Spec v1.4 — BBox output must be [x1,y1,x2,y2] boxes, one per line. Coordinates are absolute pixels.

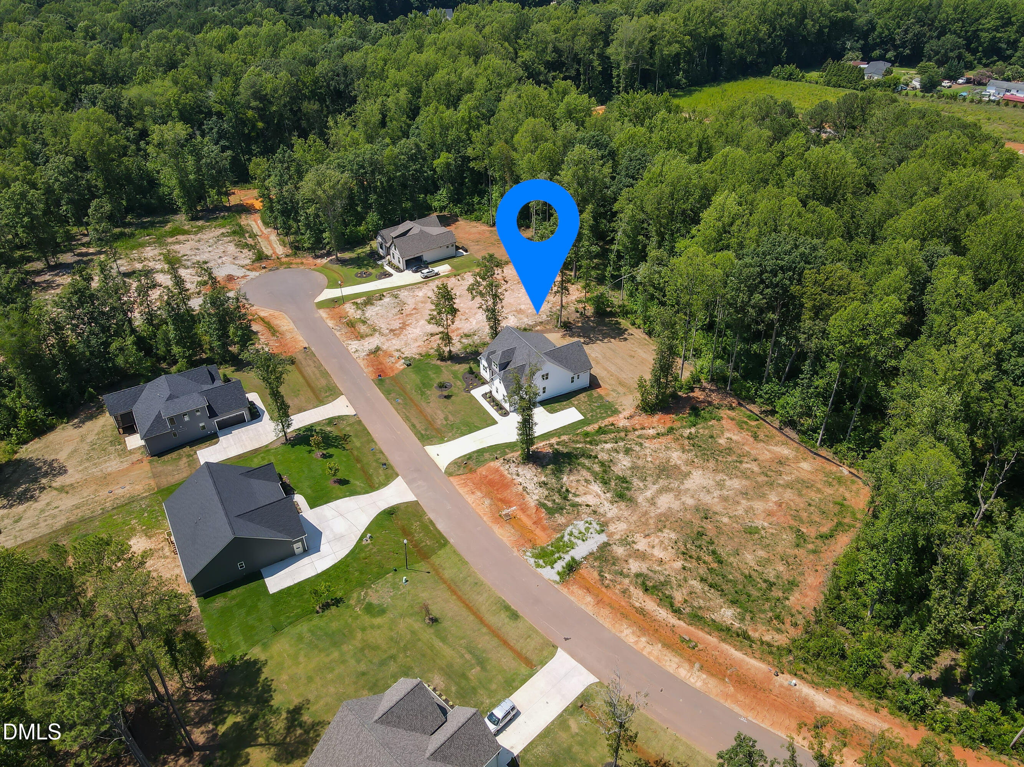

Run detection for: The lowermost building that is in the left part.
[295,671,503,767]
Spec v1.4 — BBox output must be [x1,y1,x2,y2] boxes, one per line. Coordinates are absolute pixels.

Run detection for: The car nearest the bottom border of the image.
[484,695,519,735]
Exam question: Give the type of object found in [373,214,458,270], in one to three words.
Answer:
house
